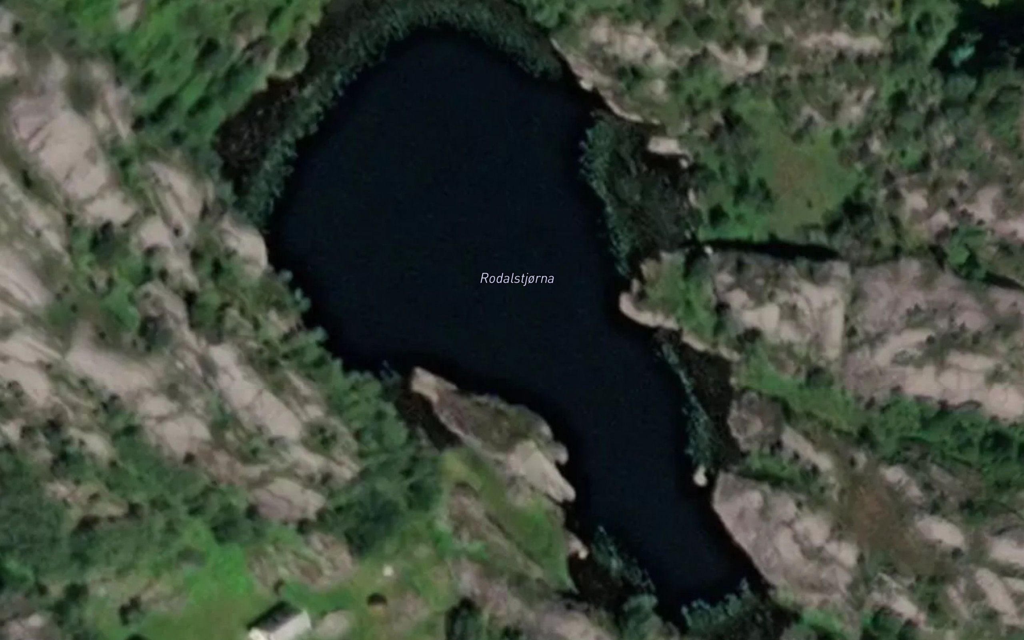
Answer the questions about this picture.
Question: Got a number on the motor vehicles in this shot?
none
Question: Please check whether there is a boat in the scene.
No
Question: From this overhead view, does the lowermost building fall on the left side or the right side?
left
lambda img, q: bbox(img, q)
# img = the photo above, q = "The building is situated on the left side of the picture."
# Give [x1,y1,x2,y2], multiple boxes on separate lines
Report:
[256,604,310,640]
